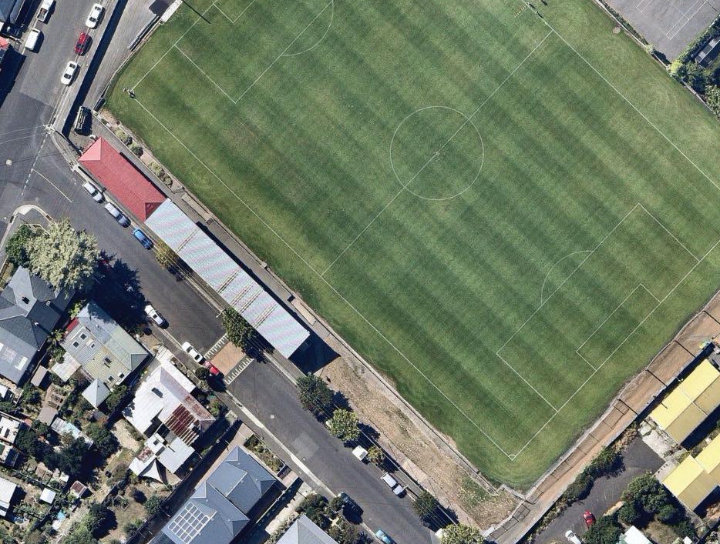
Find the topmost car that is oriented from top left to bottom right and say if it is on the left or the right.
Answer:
left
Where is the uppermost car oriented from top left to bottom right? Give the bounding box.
[83,180,105,203]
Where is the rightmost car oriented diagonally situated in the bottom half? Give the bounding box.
[564,527,585,544]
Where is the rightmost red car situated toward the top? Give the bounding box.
[75,32,90,54]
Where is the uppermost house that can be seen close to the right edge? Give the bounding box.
[651,359,720,445]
